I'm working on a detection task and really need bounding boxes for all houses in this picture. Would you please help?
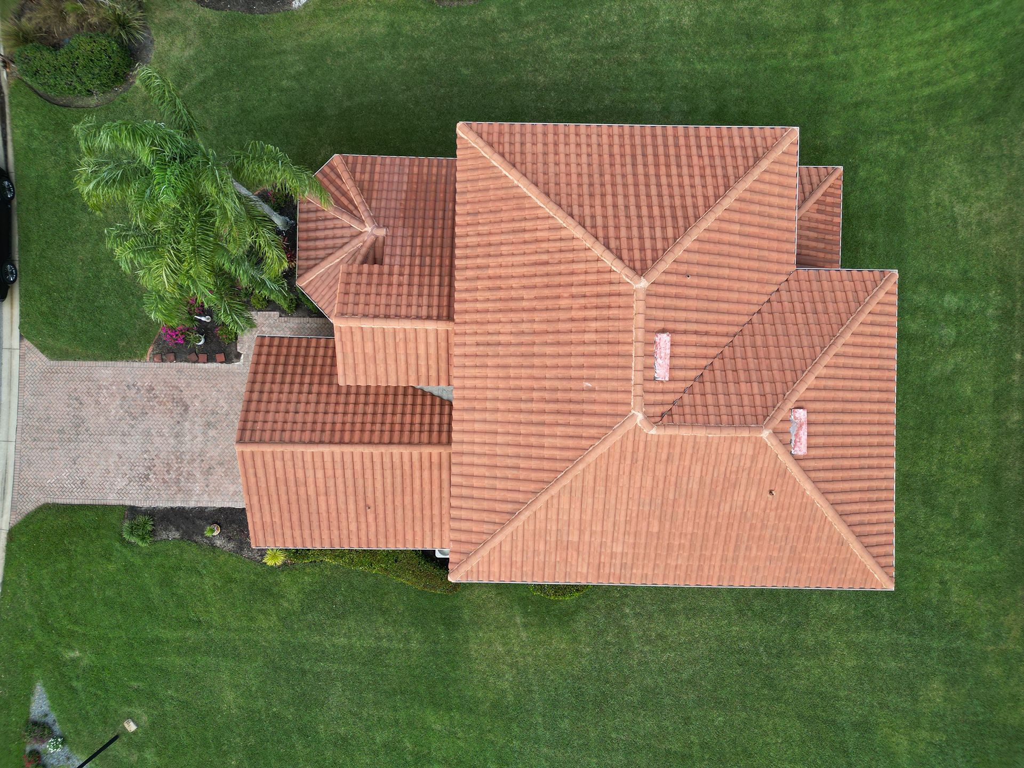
[232,120,901,589]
